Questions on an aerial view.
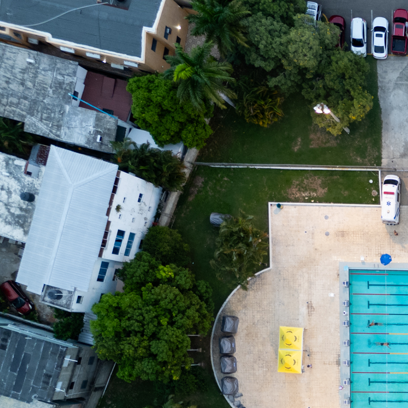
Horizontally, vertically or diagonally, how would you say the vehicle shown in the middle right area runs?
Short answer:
vertically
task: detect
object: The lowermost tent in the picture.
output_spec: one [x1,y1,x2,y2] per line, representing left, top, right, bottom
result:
[278,350,307,373]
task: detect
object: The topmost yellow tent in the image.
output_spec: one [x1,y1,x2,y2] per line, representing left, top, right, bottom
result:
[279,326,308,350]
